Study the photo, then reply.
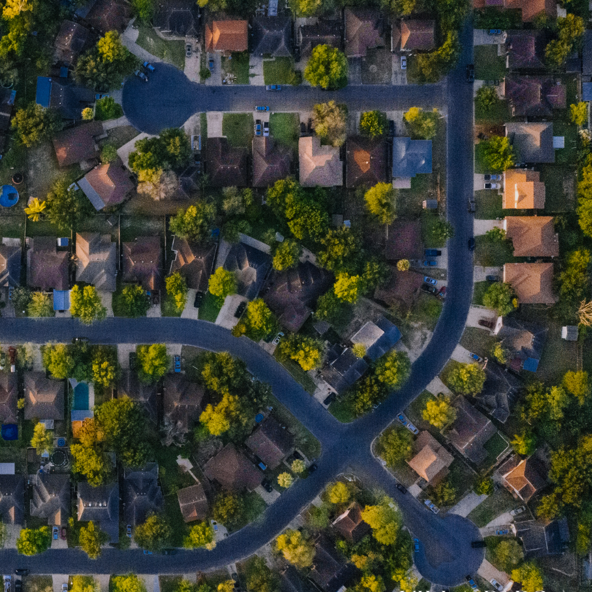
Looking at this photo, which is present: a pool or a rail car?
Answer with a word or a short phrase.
pool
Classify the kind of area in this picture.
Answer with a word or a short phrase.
residential area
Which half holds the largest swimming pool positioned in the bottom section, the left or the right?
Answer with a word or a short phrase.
left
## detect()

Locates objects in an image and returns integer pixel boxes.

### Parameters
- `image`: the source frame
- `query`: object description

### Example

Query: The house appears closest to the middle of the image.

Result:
[263,269,330,321]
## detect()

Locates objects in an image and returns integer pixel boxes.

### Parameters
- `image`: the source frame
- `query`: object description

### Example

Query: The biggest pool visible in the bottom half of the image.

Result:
[69,379,94,411]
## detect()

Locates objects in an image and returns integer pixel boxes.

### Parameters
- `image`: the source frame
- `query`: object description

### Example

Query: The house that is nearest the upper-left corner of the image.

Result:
[51,18,90,63]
